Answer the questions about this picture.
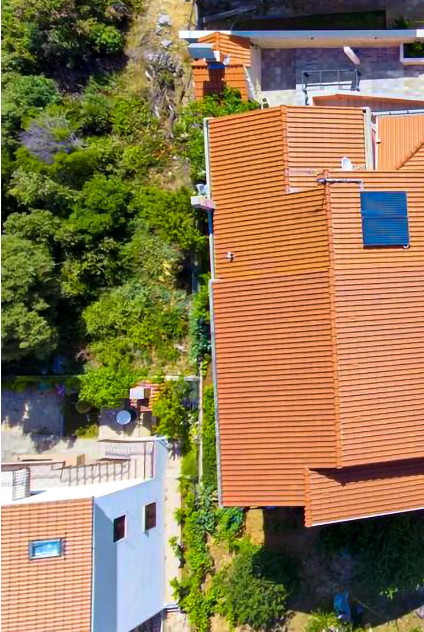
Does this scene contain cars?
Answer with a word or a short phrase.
No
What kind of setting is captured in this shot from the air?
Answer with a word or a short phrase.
residential area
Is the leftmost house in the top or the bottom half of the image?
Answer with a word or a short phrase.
bottom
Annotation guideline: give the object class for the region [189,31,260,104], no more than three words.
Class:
shed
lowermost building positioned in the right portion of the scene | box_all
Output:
[191,106,424,528]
